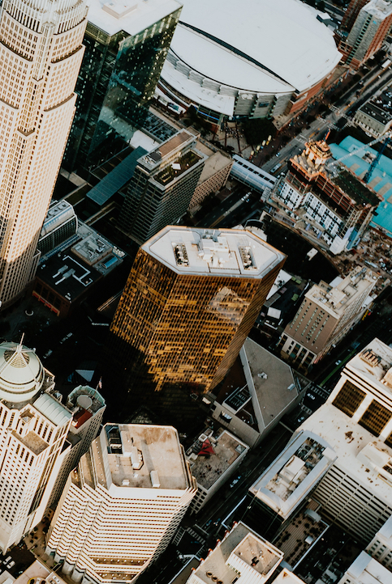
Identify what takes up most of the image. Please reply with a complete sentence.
The bulk of the photo consists of buildings.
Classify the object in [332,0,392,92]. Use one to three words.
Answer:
building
